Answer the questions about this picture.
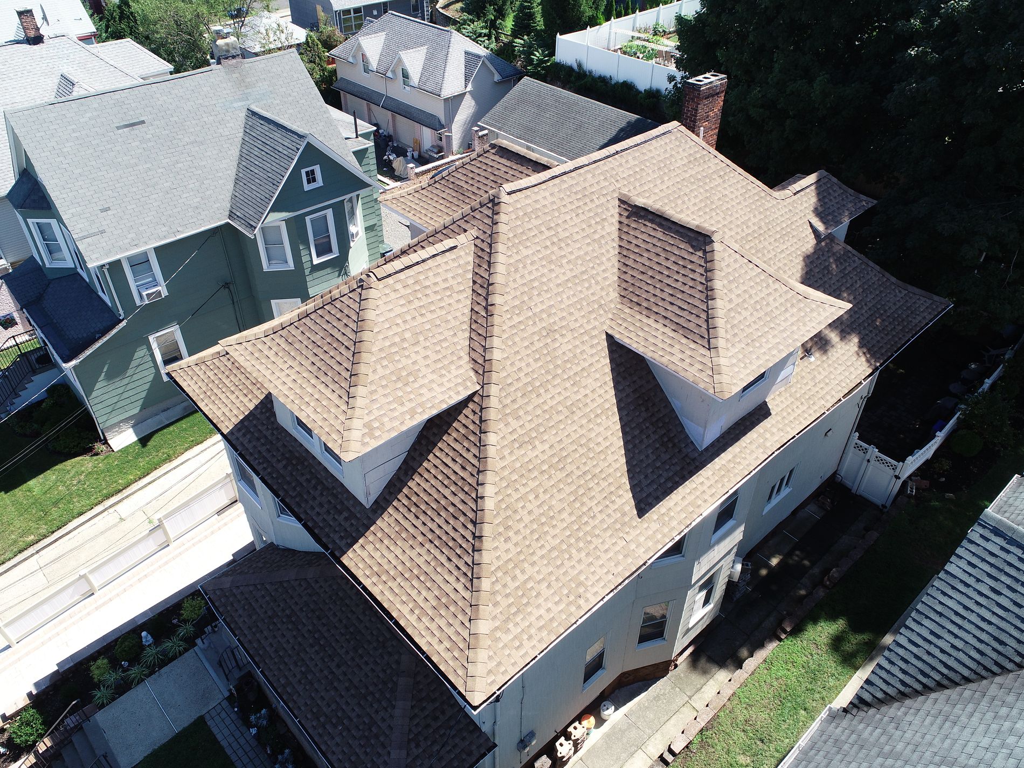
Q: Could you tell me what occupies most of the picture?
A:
buildings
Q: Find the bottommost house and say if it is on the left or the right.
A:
right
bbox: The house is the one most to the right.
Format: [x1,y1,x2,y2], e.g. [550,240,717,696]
[792,480,1024,768]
